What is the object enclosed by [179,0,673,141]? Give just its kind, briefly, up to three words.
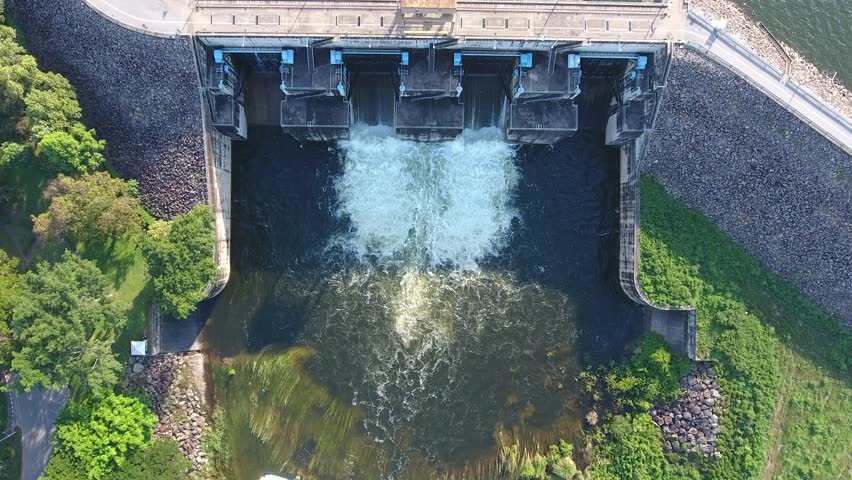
dam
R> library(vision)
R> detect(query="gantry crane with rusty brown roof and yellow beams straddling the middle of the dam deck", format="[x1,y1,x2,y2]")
[398,0,458,32]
